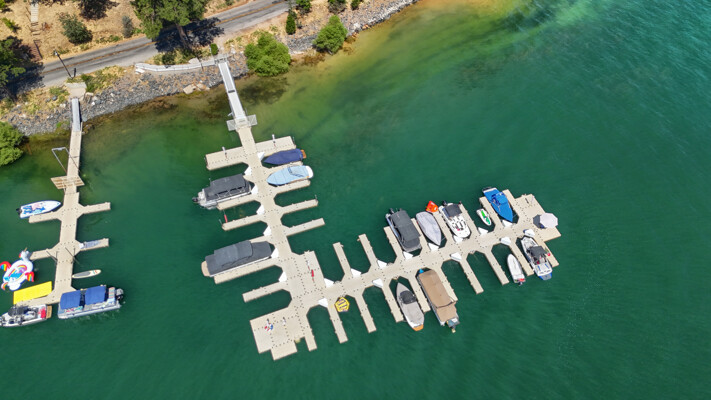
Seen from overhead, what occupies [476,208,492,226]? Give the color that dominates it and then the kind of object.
white boat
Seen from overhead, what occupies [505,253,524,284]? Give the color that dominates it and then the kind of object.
white boat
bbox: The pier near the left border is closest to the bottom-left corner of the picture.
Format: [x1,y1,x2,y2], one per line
[12,131,112,311]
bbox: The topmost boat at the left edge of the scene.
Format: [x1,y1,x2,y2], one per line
[15,202,60,217]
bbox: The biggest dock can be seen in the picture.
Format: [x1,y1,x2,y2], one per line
[206,126,561,361]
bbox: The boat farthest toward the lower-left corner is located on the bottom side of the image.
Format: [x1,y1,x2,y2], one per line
[0,303,51,330]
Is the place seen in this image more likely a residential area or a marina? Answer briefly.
marina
